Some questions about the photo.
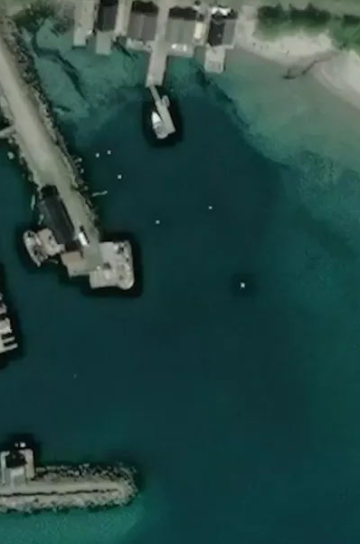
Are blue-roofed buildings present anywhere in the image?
No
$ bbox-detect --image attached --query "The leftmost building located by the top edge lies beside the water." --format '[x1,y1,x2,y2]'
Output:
[98,3,118,32]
